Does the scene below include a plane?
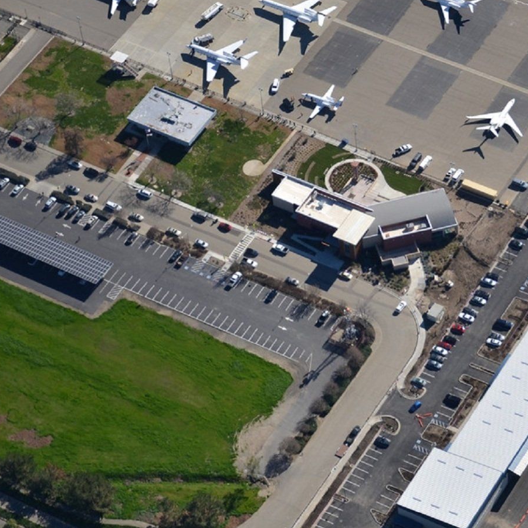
Yes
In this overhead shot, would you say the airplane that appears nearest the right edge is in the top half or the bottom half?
top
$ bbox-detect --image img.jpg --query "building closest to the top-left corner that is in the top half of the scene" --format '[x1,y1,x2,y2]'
[128,86,217,146]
